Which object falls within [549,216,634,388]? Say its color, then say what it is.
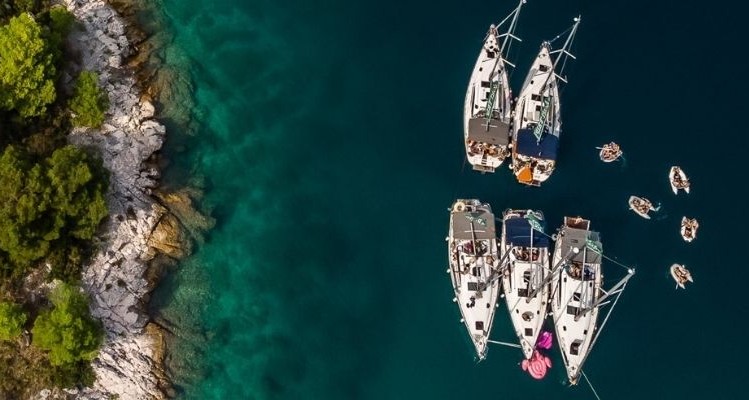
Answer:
white boat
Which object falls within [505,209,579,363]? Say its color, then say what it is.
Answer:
white boat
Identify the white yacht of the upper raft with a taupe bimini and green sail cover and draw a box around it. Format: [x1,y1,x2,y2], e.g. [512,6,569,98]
[466,0,524,174]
